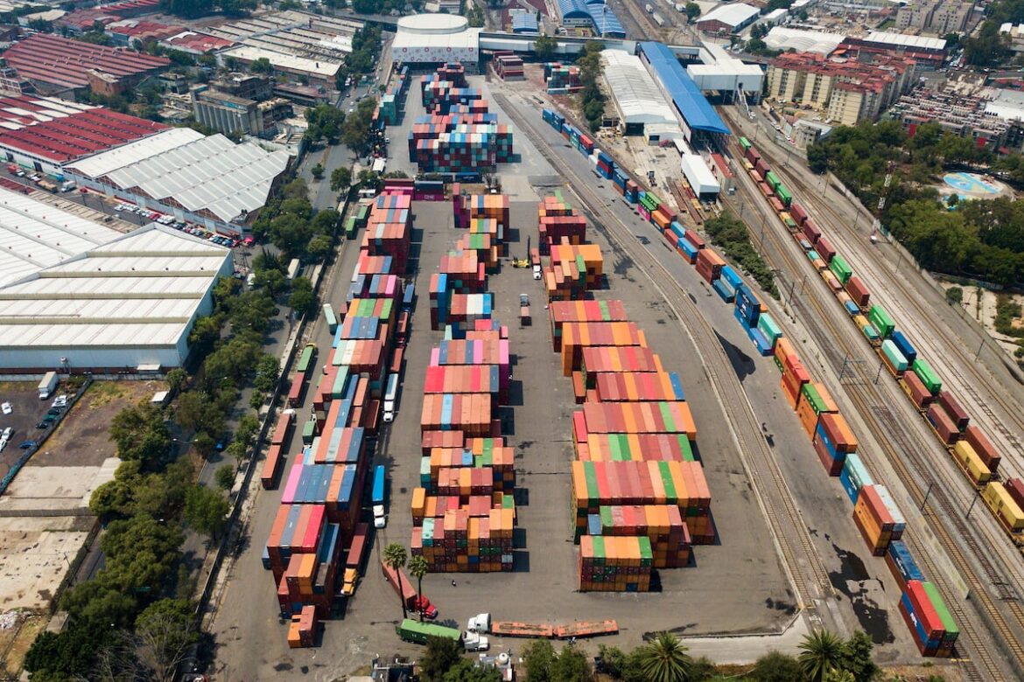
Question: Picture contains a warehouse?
Yes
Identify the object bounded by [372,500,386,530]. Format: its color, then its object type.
white vehicle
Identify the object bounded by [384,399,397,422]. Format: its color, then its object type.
white vehicle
